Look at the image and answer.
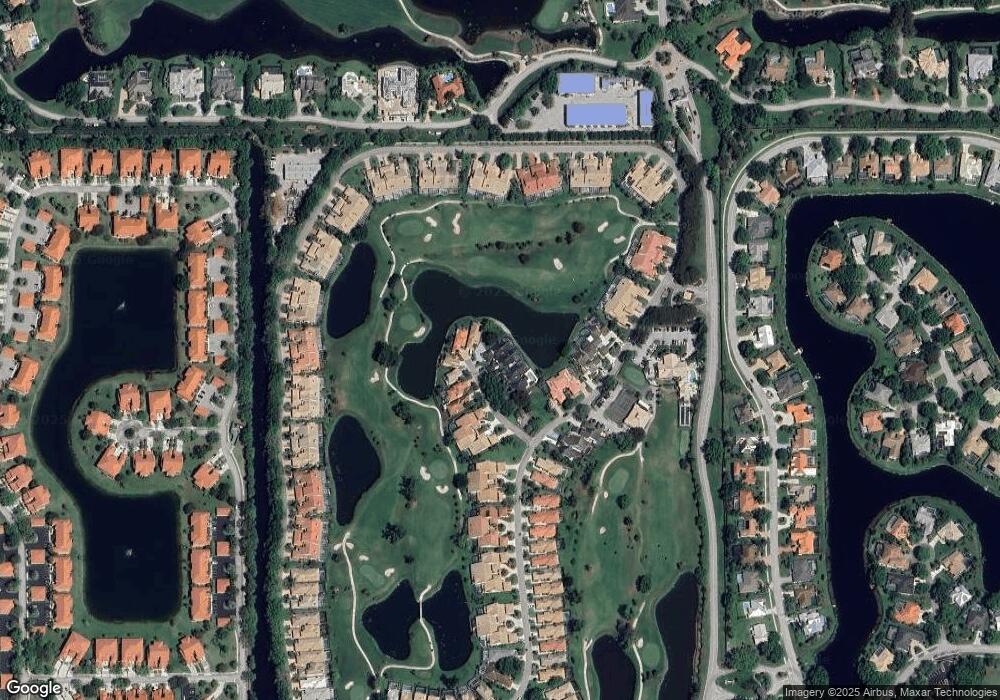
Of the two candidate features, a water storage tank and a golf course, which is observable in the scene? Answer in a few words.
golf course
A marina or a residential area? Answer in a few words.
residential area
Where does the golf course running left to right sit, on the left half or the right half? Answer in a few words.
left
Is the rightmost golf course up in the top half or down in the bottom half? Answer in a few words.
bottom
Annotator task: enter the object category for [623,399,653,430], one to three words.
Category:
building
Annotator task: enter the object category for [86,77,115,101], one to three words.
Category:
house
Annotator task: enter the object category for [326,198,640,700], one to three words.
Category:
golf course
